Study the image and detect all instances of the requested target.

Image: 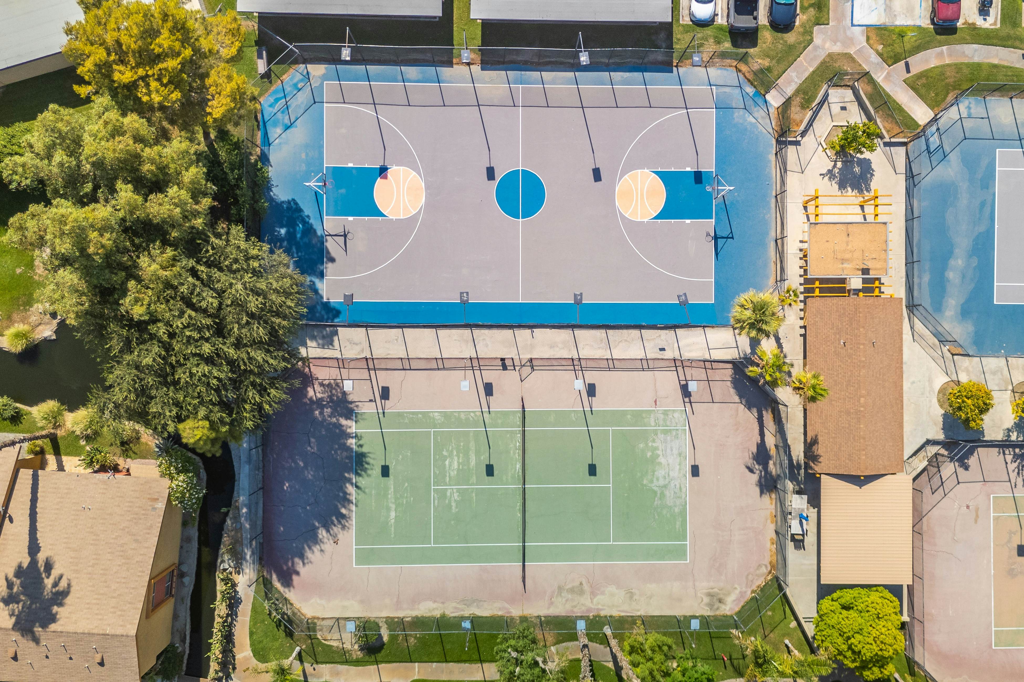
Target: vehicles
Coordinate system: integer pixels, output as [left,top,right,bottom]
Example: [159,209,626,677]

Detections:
[766,0,799,29]
[979,0,994,9]
[726,0,759,33]
[929,0,964,26]
[687,0,715,23]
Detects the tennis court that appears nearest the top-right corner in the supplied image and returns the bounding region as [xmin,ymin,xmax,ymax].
[907,98,1024,356]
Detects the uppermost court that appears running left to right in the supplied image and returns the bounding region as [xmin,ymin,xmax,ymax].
[261,65,776,324]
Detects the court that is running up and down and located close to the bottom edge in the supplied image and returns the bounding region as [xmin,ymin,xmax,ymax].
[911,442,1024,682]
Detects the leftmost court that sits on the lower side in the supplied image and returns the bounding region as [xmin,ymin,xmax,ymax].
[263,359,776,618]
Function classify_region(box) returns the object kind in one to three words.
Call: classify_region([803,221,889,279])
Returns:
building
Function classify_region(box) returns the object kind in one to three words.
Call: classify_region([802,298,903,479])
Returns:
building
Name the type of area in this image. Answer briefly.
sports ground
